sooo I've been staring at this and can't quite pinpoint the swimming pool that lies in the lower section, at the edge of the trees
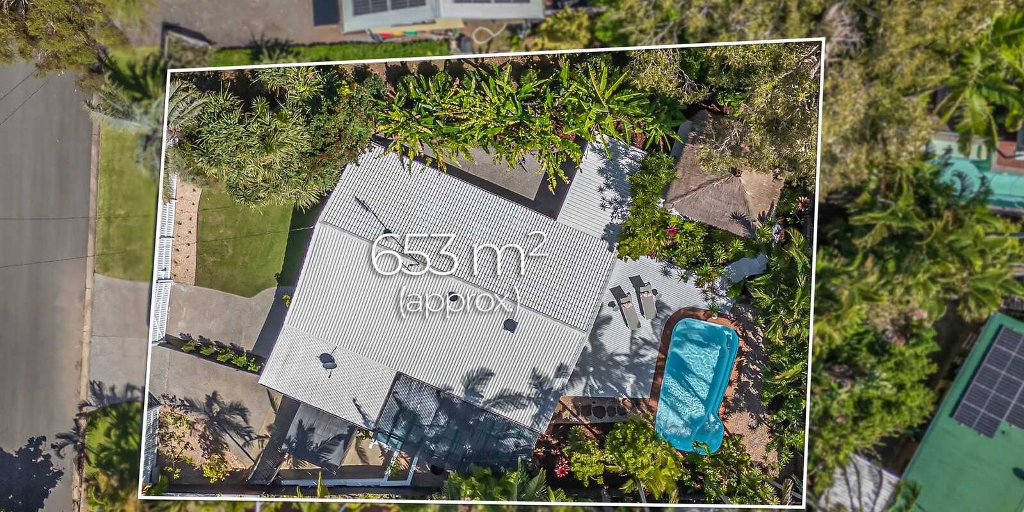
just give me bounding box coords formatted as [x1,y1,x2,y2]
[649,309,748,461]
